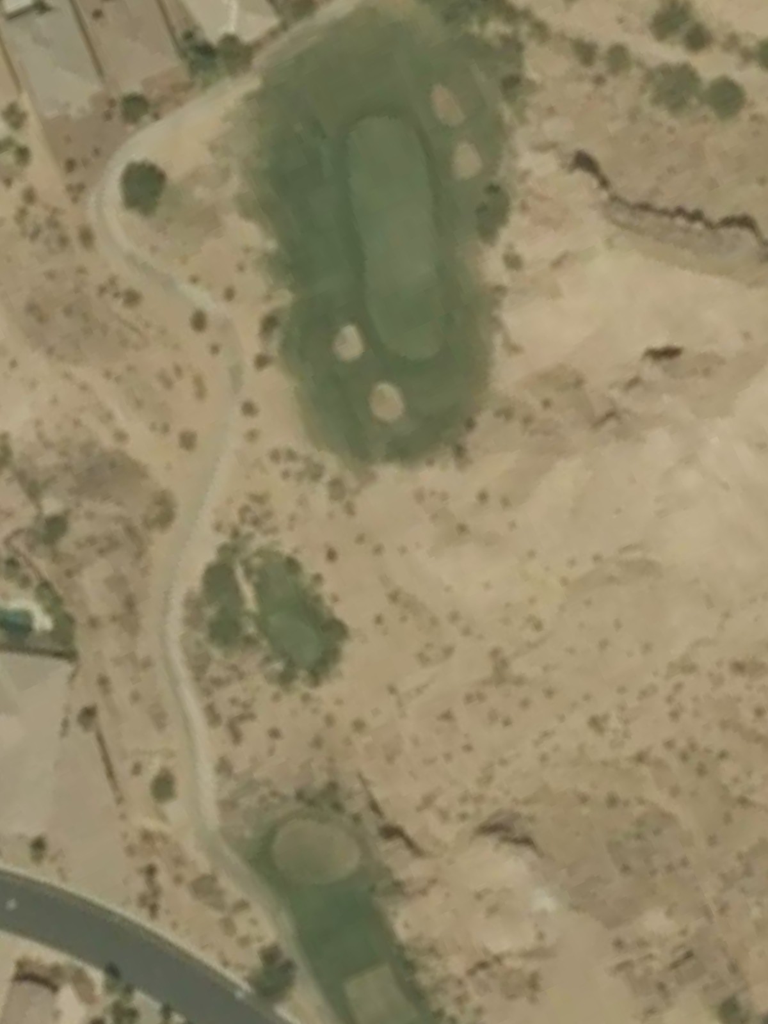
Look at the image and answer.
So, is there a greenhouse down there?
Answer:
No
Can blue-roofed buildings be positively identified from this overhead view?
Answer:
No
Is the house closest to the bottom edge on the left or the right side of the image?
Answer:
left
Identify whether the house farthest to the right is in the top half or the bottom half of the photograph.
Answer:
top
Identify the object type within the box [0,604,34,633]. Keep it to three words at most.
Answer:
swimming pool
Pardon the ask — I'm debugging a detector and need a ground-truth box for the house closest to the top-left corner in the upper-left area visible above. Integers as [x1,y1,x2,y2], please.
[6,0,102,108]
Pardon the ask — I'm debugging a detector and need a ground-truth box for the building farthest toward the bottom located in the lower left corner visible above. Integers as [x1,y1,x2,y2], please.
[3,982,56,1024]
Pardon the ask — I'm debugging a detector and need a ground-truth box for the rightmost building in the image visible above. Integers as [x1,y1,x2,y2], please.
[185,0,264,40]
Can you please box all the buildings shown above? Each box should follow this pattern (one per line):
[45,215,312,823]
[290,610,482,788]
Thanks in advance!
[185,0,264,40]
[0,653,71,835]
[6,0,102,108]
[80,0,178,88]
[3,982,56,1024]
